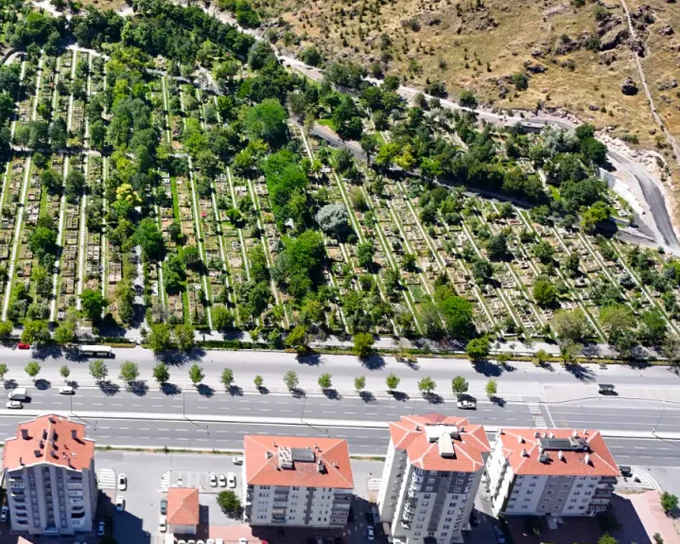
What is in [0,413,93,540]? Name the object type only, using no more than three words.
building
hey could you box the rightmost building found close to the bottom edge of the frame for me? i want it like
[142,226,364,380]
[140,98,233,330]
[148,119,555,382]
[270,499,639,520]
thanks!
[485,429,621,540]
